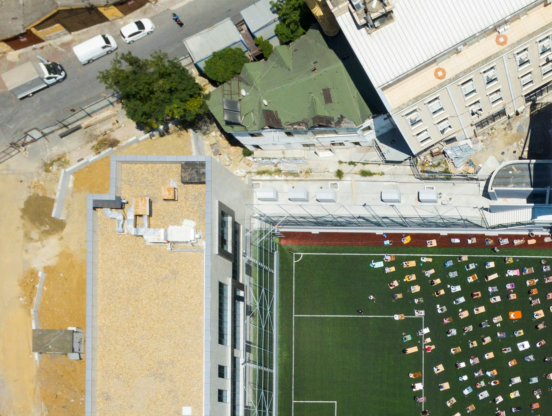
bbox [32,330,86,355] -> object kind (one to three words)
shed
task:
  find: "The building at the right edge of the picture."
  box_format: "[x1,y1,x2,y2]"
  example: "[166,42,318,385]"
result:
[354,0,552,152]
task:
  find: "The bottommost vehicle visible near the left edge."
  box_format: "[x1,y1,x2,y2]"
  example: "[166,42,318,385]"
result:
[0,56,65,98]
